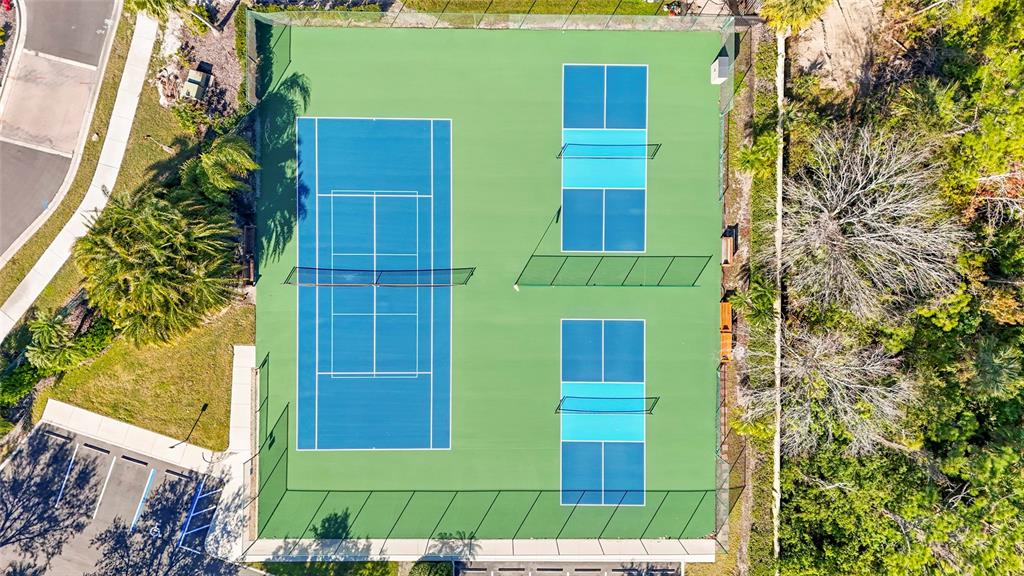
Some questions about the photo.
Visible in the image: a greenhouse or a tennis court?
tennis court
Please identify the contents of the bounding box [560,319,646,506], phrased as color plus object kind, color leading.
blue sports court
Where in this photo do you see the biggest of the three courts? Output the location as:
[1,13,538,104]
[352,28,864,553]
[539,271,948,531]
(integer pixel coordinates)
[297,118,452,450]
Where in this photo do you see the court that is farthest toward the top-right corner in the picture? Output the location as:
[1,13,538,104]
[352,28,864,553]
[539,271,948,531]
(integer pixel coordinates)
[561,64,648,252]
